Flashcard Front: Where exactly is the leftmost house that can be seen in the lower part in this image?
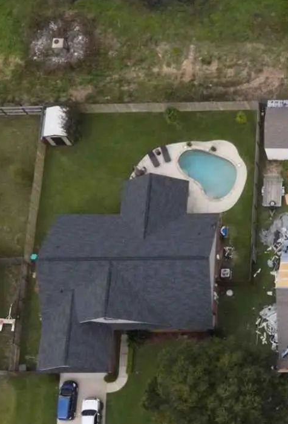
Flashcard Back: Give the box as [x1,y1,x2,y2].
[37,174,222,373]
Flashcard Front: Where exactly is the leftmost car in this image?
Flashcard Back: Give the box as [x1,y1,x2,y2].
[52,380,78,422]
